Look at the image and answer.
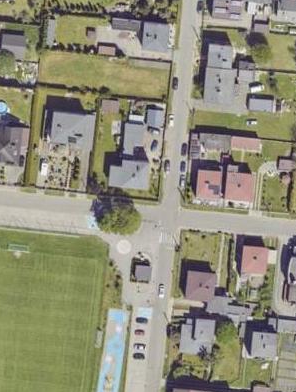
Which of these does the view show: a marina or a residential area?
residential area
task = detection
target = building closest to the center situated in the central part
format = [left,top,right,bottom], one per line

[109,163,150,189]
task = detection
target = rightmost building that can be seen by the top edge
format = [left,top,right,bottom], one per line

[275,0,296,26]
